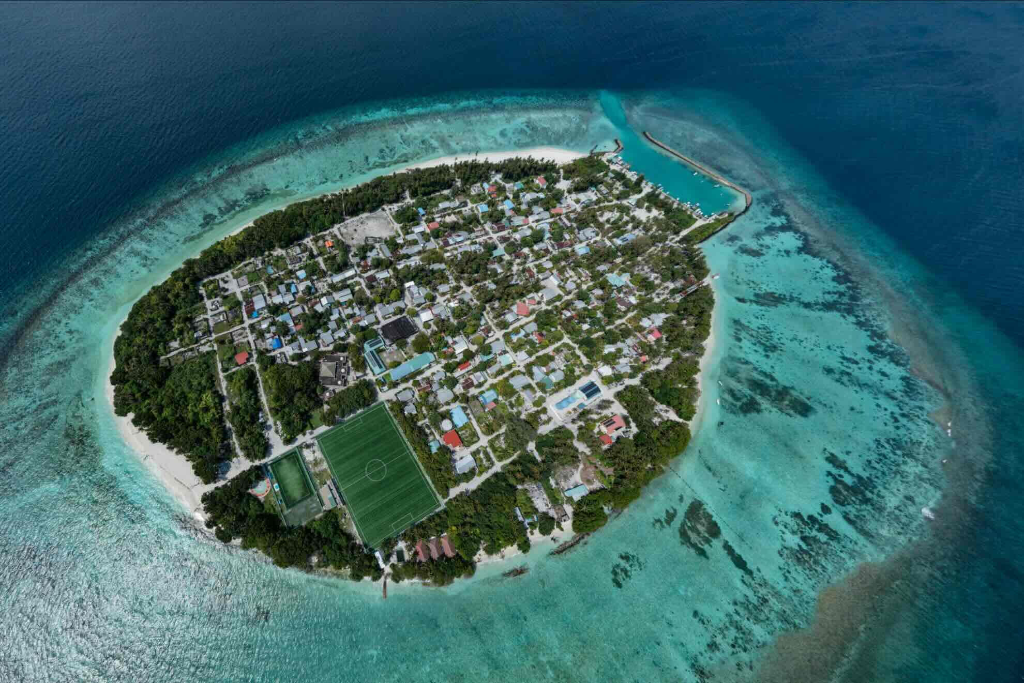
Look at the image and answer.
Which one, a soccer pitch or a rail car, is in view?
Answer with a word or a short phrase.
soccer pitch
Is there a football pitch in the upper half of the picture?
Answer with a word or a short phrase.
No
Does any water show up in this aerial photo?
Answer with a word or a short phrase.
Yes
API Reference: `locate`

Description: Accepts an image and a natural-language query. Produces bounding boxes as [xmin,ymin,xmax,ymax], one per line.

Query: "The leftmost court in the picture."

[266,448,322,527]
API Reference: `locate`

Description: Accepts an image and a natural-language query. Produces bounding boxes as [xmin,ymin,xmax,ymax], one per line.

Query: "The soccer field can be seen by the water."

[313,398,448,557]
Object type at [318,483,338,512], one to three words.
building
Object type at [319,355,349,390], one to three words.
building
